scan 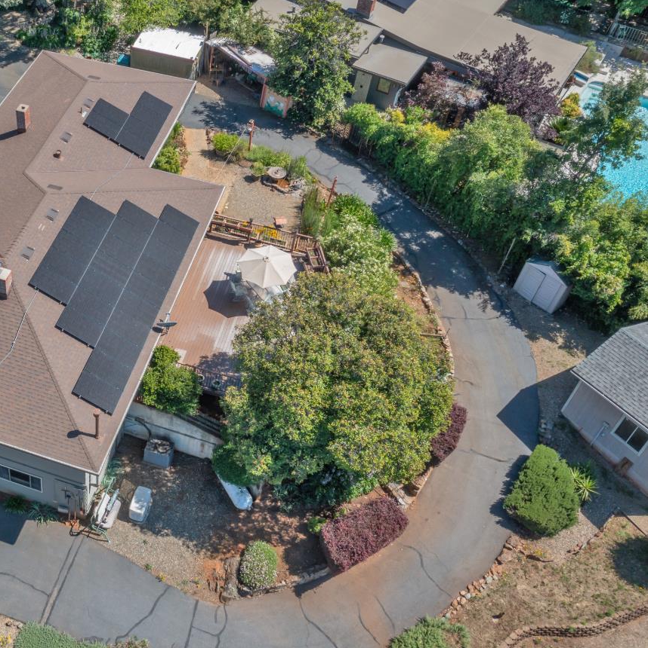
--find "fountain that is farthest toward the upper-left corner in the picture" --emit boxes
[268,165,290,186]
